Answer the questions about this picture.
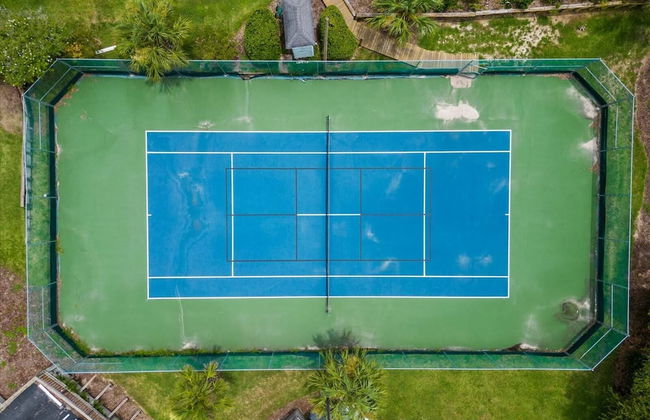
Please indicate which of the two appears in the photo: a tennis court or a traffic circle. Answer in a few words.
tennis court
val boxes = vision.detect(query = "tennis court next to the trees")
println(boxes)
[55,74,602,354]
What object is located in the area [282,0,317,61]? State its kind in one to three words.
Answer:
shed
